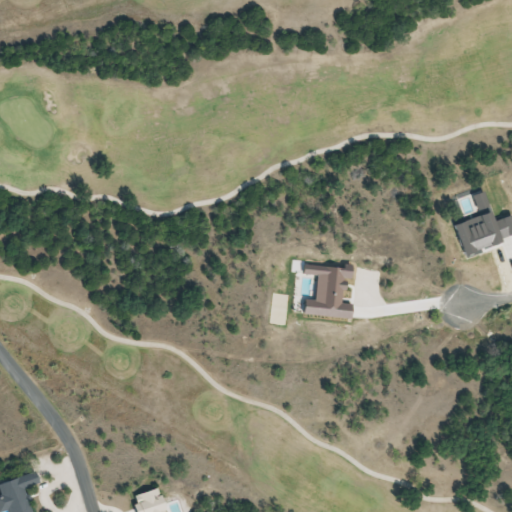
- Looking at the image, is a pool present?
Yes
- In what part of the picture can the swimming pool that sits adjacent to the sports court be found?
center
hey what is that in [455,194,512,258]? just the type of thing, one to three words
house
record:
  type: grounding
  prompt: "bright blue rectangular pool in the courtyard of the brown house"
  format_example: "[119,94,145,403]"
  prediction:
[294,274,316,312]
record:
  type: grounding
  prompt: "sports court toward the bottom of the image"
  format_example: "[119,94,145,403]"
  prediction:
[270,293,289,326]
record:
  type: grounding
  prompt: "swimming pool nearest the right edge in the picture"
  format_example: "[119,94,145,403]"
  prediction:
[458,194,475,216]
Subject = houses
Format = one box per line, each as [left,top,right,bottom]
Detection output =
[304,264,354,319]
[0,472,40,512]
[455,194,512,258]
[135,488,170,512]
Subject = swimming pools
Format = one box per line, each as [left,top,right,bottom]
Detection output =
[294,274,316,312]
[168,500,184,512]
[458,194,475,216]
